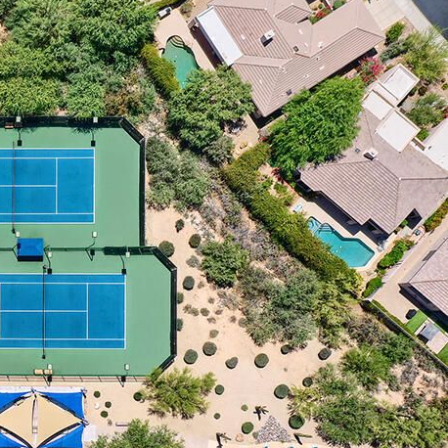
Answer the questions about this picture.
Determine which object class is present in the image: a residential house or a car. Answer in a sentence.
There is a residential house in the scene.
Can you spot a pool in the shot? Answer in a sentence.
Yes, a pool is visible in the scene.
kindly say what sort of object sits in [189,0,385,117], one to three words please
house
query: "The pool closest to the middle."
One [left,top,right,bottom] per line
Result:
[308,213,378,270]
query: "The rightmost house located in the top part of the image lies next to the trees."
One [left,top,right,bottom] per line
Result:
[293,63,448,233]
